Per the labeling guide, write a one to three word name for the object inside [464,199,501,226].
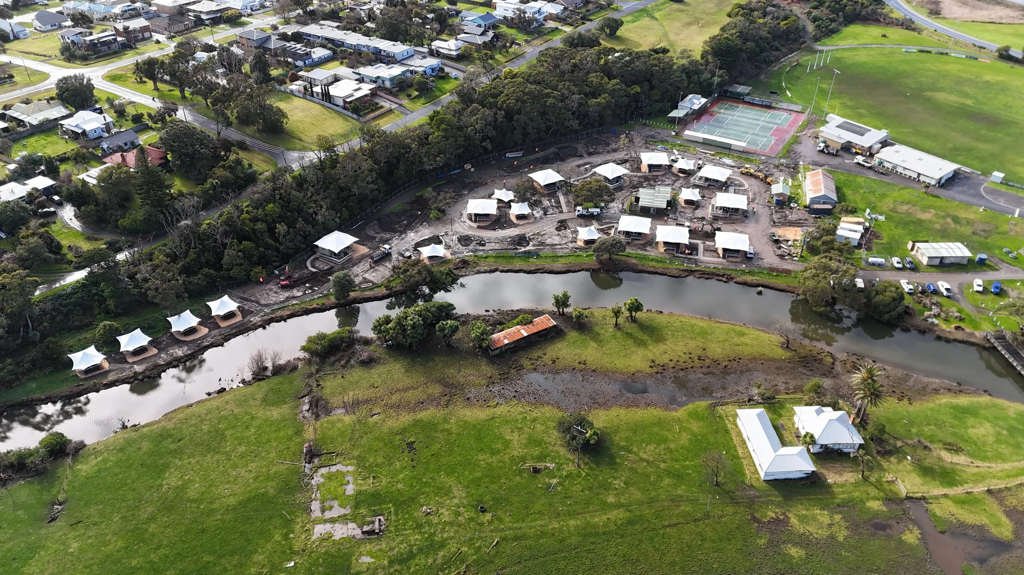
tent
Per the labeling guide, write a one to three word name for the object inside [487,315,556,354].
shed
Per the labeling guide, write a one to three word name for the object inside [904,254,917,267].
vehicle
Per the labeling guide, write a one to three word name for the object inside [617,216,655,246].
tent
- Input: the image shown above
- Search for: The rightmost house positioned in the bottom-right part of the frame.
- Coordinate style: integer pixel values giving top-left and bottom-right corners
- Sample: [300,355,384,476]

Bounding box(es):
[795,397,865,455]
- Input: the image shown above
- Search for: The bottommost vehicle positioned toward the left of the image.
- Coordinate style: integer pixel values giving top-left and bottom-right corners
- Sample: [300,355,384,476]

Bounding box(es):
[277,262,291,287]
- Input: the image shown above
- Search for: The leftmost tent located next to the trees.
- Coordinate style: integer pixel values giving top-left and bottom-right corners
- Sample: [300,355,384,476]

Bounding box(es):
[61,344,116,379]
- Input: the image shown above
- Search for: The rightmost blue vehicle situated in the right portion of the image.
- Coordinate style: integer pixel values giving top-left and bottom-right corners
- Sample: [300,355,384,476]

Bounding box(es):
[991,277,1003,292]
